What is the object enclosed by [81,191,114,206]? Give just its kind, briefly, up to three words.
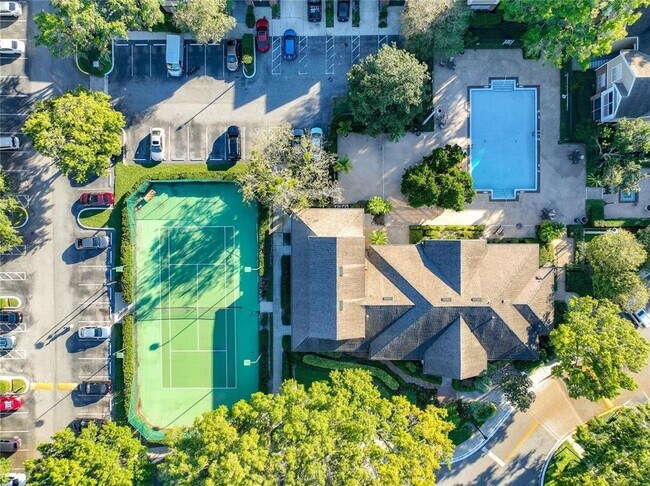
car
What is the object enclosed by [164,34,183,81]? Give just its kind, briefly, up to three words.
vehicle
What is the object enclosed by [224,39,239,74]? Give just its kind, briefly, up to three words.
car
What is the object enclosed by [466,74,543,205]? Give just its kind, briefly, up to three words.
swimming pool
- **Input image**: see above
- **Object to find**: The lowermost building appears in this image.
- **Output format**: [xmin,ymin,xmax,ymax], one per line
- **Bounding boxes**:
[290,208,554,381]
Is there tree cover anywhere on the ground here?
Yes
